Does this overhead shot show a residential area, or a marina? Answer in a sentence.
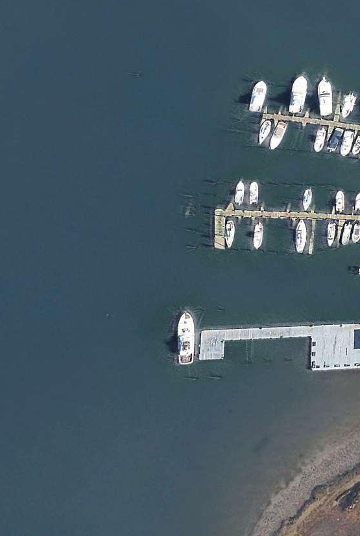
It's a marina.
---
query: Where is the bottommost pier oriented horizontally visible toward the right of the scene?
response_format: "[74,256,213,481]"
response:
[214,202,360,255]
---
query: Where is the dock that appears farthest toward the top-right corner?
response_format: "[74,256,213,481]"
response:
[260,103,360,137]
